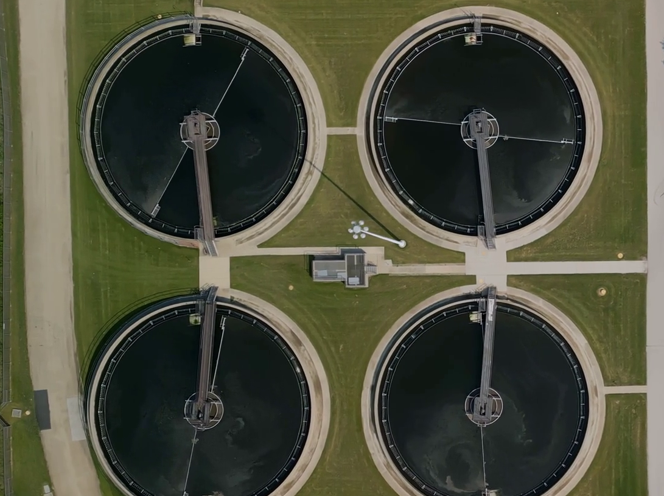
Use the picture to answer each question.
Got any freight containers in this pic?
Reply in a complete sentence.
No, there appears to be no freight container in this shot.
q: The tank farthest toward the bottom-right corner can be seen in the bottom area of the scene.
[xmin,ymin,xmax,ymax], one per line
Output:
[363,285,605,496]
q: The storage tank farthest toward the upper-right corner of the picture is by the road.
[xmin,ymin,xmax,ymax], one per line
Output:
[357,8,601,252]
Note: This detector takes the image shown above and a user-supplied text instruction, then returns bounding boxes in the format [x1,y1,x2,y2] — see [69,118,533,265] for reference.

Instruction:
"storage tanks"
[357,8,601,252]
[87,288,329,496]
[83,10,324,253]
[363,285,605,496]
